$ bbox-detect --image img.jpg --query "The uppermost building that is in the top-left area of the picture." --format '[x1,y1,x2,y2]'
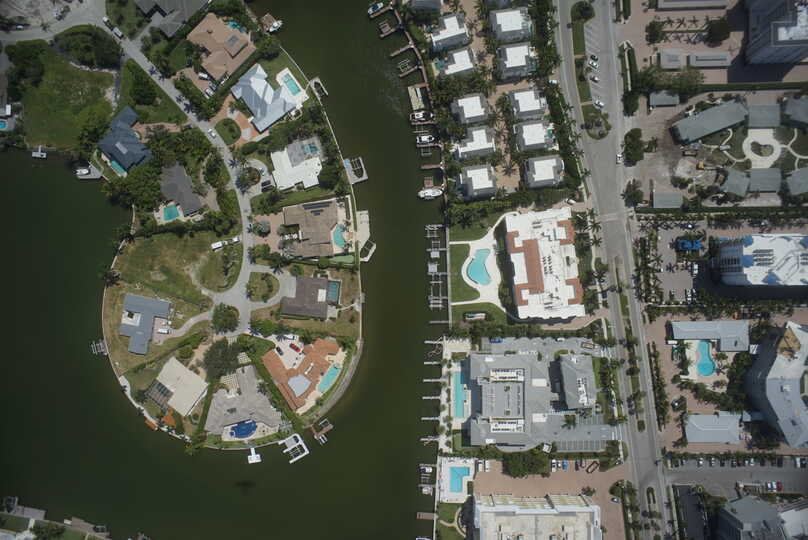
[135,0,209,37]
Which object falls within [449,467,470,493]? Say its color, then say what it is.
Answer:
blue swimming pool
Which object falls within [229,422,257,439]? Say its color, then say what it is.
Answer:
blue swimming pool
